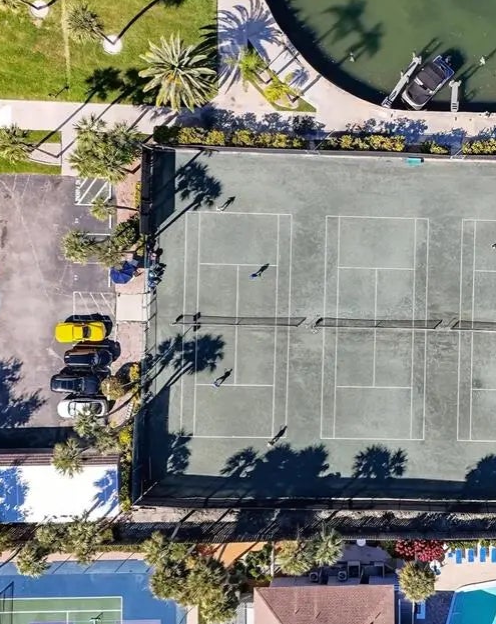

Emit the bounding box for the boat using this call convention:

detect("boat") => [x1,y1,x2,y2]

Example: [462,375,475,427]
[411,52,456,108]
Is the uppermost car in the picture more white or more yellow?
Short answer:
yellow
